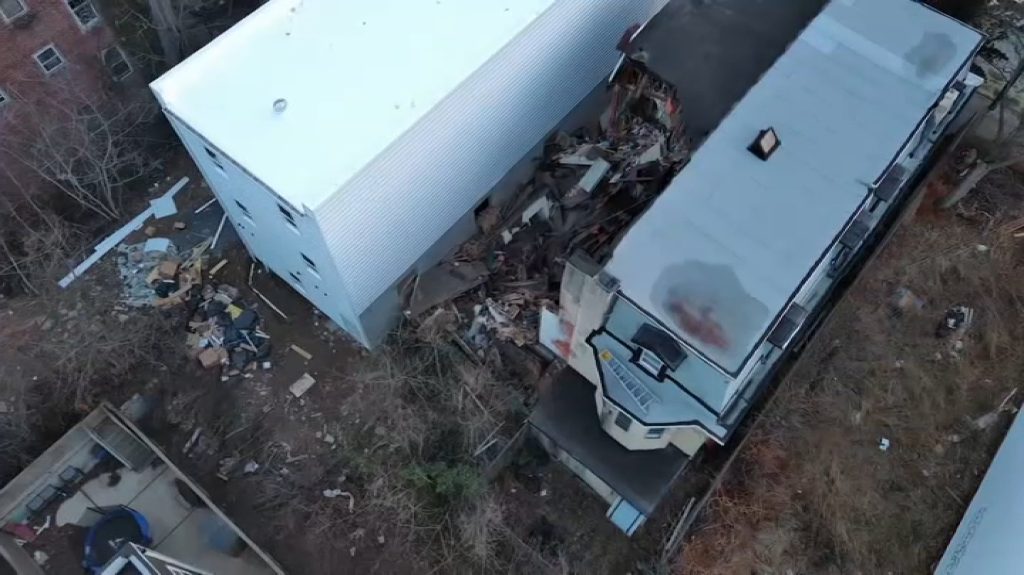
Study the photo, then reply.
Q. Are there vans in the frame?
No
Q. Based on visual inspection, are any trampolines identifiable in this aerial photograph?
Yes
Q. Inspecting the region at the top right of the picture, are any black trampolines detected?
No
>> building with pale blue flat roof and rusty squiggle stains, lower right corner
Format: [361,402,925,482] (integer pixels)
[934,403,1024,575]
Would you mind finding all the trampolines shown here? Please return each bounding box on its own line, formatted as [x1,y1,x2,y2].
[81,501,157,574]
